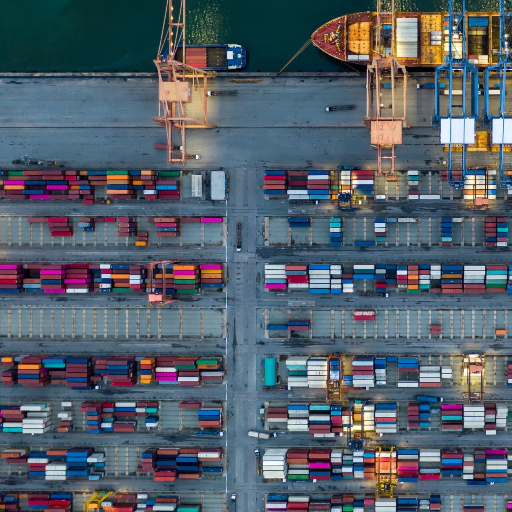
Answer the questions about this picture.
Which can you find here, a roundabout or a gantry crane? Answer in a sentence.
This aerial view contains a gantry crane.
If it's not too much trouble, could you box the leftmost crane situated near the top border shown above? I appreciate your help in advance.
[154,0,223,166]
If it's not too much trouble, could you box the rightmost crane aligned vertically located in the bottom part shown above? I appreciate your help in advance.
[462,349,486,402]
